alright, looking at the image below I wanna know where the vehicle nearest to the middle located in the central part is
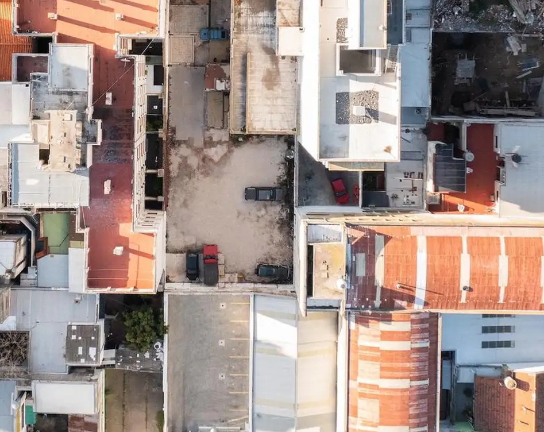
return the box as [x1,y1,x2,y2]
[243,185,282,203]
